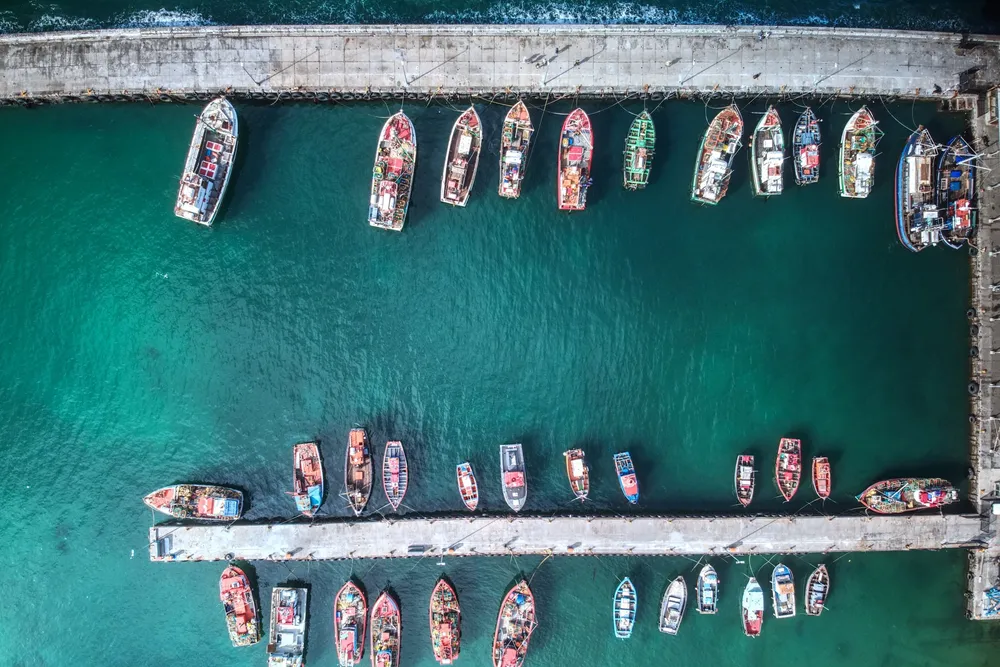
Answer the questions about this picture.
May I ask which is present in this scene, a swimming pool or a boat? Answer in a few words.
boat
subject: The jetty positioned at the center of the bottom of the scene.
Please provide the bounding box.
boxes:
[149,512,976,563]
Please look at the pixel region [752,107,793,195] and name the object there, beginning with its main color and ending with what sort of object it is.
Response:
white boat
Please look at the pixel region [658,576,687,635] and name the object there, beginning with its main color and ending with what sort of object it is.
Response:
white boat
